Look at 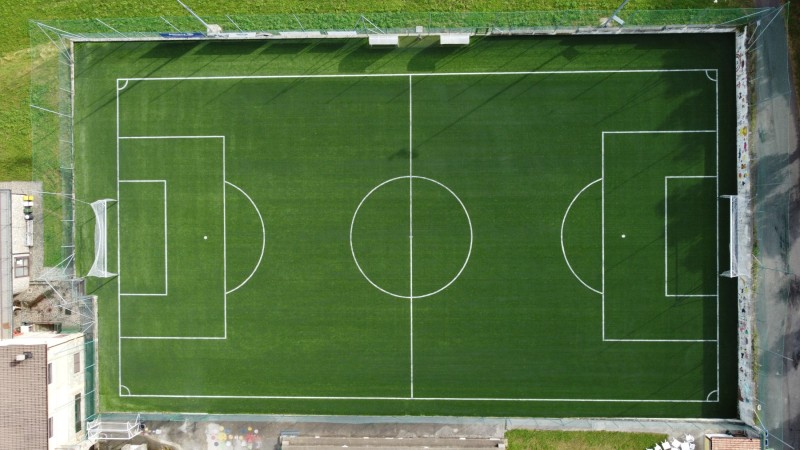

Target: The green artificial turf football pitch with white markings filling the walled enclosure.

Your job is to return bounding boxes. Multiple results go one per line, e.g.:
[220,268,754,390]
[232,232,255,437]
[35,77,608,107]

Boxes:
[74,34,739,420]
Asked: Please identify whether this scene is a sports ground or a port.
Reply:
sports ground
